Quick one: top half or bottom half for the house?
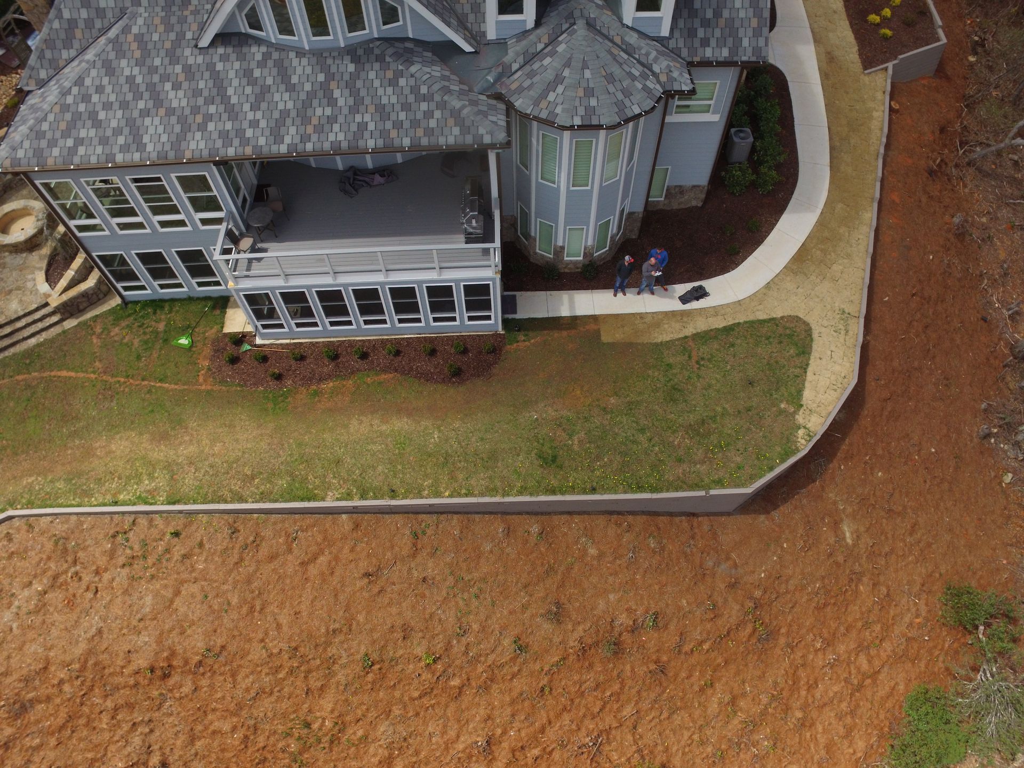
top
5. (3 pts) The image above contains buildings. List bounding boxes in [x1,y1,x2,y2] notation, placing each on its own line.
[0,0,773,343]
